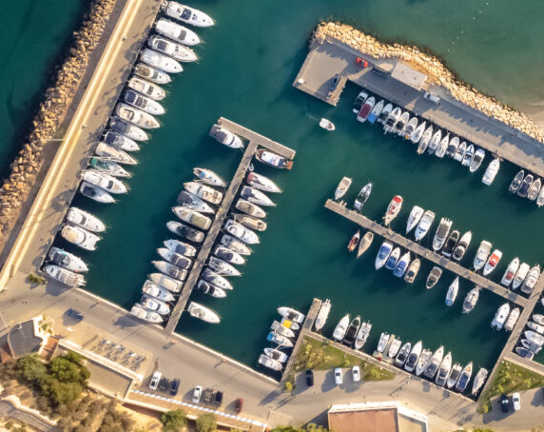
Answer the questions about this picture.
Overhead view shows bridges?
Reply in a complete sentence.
No, I can see no bridge in this picture.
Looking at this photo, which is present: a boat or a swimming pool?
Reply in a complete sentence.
Looking from above, you can make out a boat.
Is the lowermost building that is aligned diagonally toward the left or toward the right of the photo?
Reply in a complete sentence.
You can find the lowermost building that is aligned diagonally on the left side of the picture.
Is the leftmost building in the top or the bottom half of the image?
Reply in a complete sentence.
The leftmost building is in the bottom half of the image.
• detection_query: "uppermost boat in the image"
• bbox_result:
[161,1,214,26]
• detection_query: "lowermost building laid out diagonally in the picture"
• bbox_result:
[61,346,136,401]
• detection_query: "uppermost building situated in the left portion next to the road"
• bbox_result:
[0,315,60,363]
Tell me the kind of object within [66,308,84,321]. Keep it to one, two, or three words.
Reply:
vehicle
